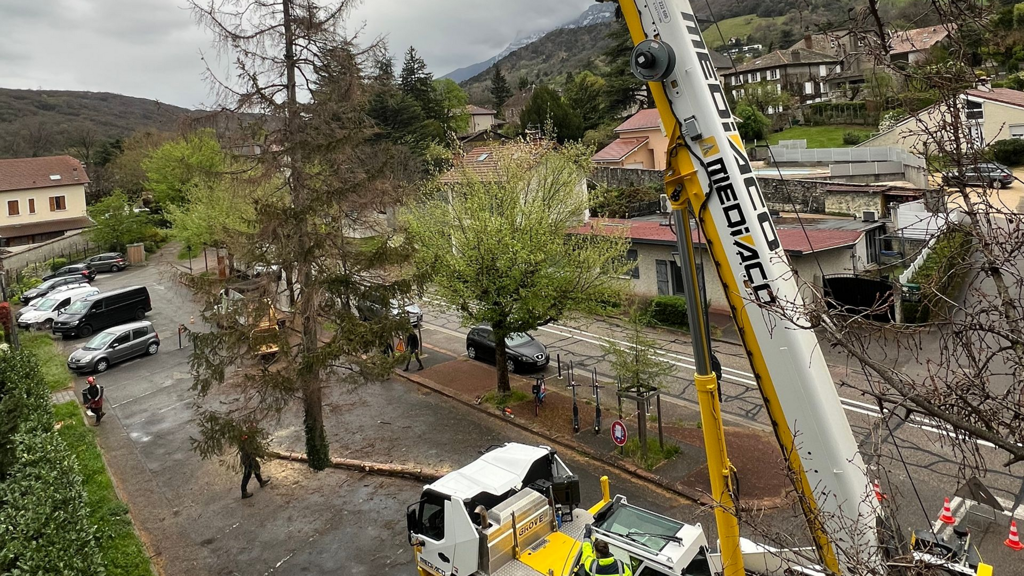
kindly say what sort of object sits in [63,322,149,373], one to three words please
car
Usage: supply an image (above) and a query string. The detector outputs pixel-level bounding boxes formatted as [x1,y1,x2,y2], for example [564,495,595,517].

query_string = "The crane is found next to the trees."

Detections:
[406,0,994,576]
